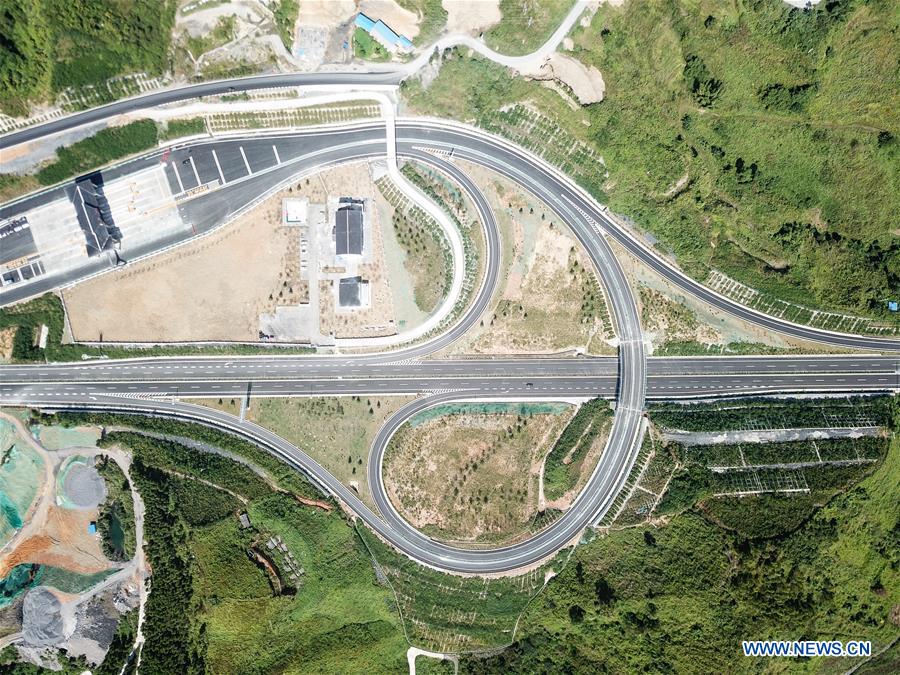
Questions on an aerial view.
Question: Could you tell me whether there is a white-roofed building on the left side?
Yes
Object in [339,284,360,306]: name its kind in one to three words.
building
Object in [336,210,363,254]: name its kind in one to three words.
building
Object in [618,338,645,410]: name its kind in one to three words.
overpass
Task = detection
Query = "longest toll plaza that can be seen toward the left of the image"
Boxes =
[65,178,120,261]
